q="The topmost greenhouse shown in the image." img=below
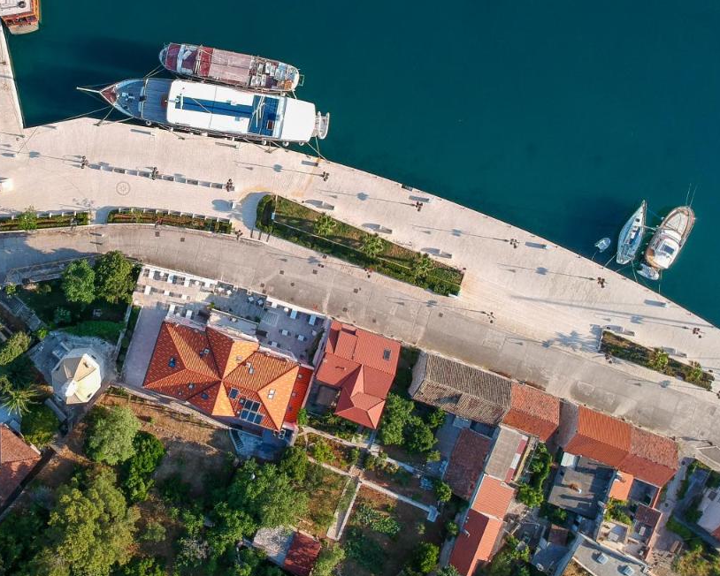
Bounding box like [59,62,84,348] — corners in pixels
[0,290,46,332]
